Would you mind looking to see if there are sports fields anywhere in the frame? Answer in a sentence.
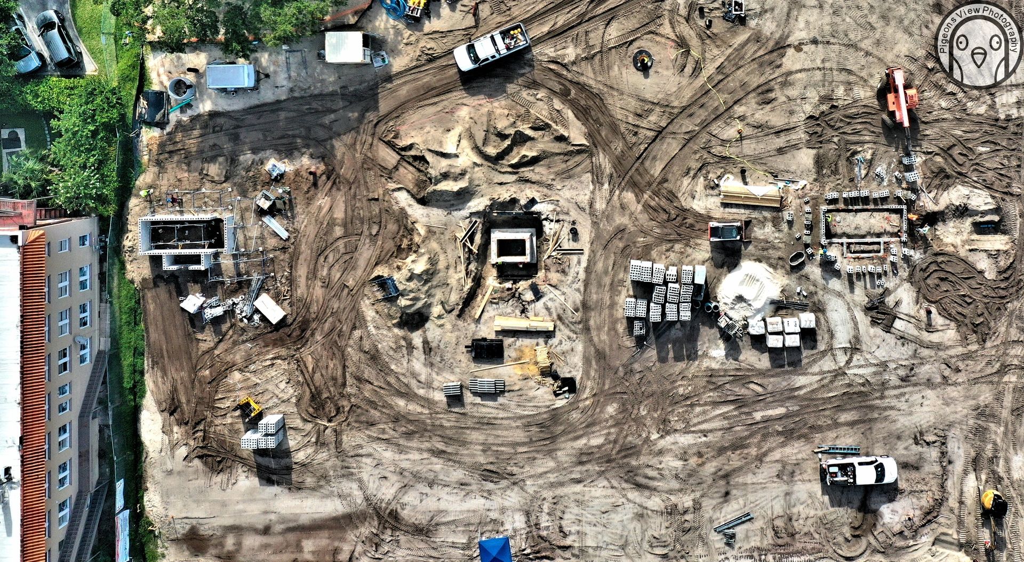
No, the photo shows no sports field.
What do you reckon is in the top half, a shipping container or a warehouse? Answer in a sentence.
Visible in the top half is a shipping container.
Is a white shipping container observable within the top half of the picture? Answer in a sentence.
Yes, a white shipping container appears within the top half of the picture.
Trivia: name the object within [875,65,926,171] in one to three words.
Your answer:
work vehicle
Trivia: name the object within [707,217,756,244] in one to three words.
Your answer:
work vehicle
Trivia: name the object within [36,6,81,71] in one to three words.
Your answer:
car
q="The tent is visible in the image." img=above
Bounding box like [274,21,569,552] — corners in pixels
[478,524,519,562]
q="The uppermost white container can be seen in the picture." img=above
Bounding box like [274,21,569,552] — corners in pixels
[325,32,383,64]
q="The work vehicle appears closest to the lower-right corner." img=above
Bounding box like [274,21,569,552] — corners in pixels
[979,490,1009,540]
